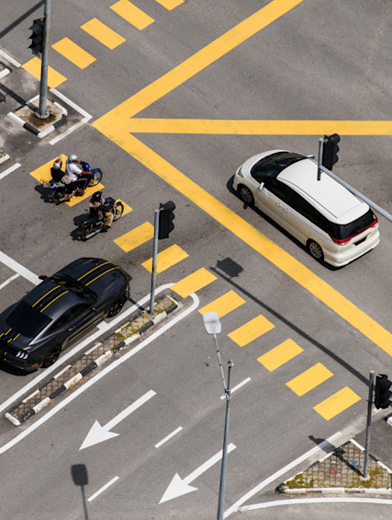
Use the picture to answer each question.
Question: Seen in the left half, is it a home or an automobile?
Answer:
automobile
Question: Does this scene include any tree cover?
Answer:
No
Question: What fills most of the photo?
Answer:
paved ground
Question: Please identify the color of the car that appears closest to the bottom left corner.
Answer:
black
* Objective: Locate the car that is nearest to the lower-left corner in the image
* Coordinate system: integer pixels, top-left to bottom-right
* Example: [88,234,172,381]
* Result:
[0,256,132,375]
